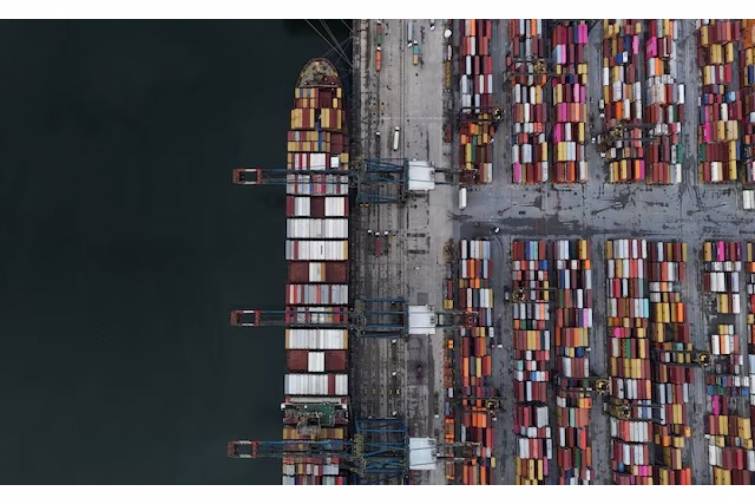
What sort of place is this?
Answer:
port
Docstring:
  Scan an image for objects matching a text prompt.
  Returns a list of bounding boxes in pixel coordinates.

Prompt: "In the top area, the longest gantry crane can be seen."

[231,158,480,211]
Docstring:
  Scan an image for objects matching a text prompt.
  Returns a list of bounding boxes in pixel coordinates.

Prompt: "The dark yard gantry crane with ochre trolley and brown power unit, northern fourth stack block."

[591,123,658,150]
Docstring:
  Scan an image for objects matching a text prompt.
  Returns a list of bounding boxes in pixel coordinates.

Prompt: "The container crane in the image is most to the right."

[645,341,712,365]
